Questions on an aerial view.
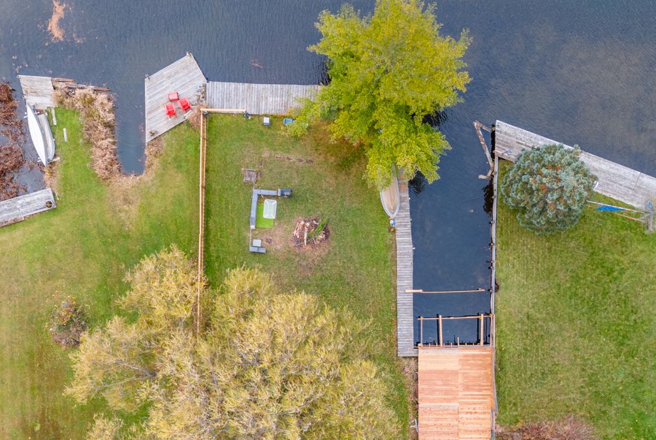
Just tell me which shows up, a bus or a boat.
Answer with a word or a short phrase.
boat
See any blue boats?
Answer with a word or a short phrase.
No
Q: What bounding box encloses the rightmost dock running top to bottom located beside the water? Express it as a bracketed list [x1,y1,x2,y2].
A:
[396,160,415,358]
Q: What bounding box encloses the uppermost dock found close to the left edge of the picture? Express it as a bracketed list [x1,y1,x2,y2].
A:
[19,76,56,108]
